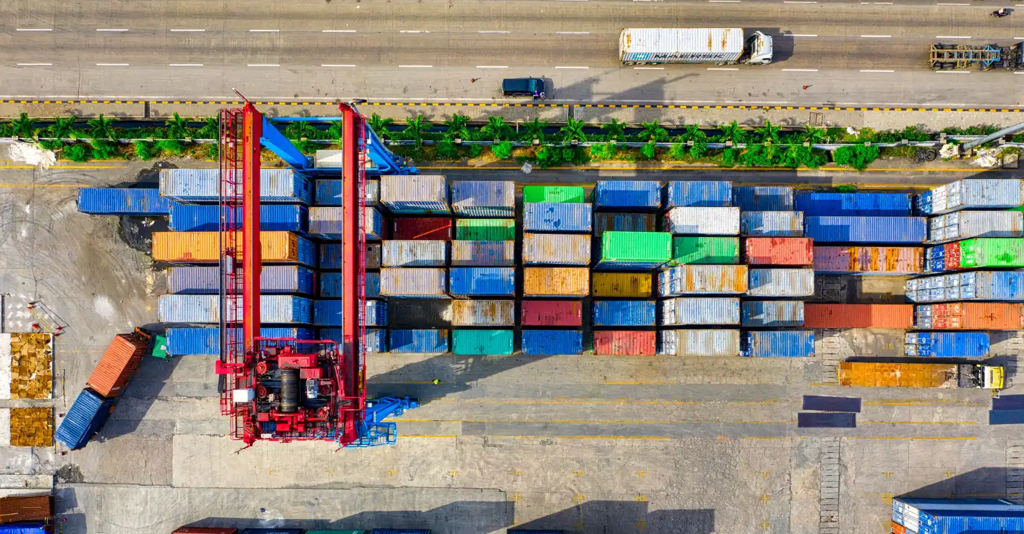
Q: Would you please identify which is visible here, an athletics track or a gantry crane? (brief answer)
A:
gantry crane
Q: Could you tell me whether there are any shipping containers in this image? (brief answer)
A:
Yes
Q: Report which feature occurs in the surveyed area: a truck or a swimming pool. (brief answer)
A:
truck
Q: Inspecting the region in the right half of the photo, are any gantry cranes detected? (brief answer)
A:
No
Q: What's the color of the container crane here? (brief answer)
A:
red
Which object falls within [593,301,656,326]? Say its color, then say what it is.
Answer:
blue shipping container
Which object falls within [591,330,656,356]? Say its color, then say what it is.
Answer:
red shipping container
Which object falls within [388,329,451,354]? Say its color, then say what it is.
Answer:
blue shipping container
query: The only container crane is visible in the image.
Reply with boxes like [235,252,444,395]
[216,88,429,457]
